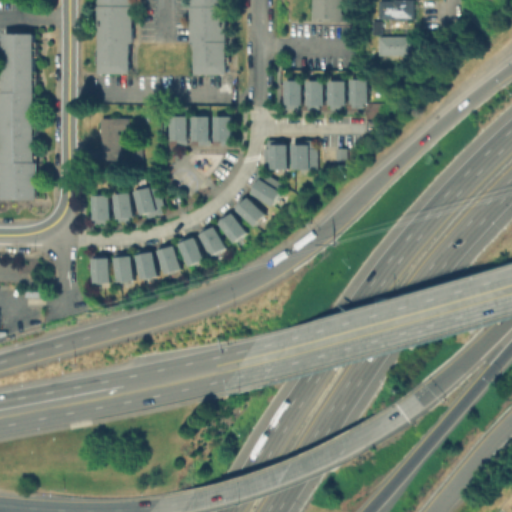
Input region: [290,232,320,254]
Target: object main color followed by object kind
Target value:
white truck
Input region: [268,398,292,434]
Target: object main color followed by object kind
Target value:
white truck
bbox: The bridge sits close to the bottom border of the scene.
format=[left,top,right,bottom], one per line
[154,402,410,512]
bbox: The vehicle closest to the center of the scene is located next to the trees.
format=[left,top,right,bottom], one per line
[269,252,291,270]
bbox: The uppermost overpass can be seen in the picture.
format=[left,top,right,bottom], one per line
[227,264,512,393]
